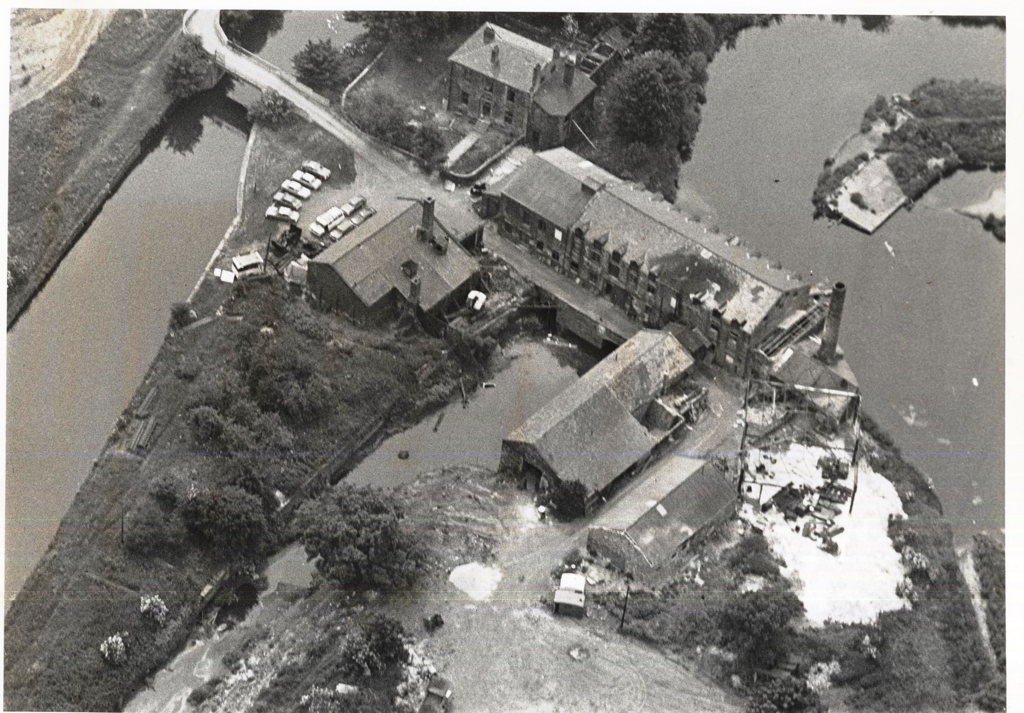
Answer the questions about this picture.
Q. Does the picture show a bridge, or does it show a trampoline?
bridge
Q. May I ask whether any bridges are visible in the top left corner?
Yes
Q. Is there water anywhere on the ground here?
Yes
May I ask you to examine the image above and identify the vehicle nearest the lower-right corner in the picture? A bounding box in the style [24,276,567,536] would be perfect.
[557,567,585,618]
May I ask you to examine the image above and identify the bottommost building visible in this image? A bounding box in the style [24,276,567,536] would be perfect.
[587,458,737,590]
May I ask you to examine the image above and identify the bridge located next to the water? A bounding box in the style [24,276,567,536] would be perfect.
[182,4,331,114]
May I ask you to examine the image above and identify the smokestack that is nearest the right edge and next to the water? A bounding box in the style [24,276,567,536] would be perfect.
[817,281,849,366]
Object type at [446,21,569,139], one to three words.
house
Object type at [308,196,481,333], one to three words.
building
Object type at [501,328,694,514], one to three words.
building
